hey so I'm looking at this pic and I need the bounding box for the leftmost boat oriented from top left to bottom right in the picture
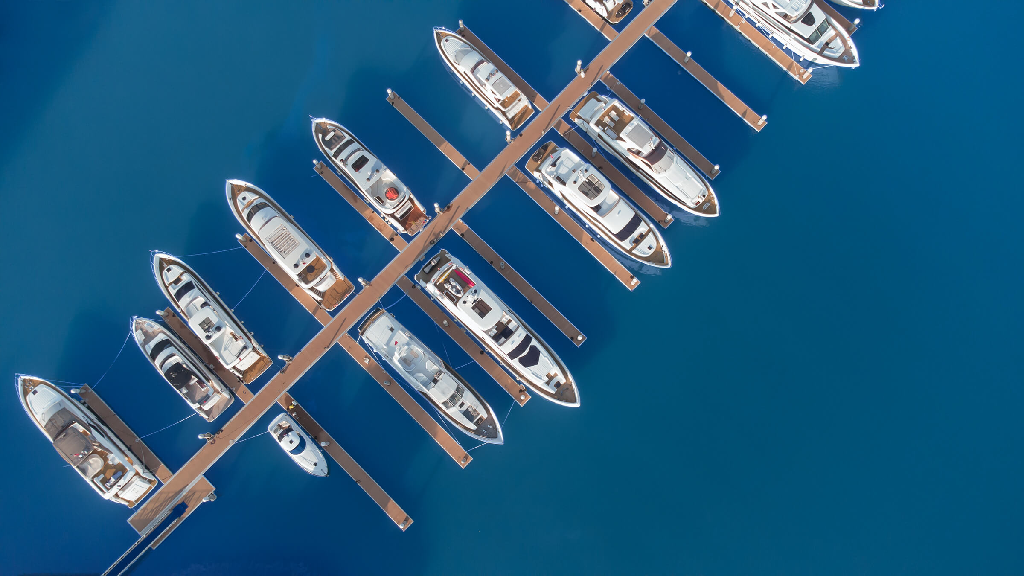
[15,374,159,508]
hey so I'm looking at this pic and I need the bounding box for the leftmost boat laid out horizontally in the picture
[581,0,633,25]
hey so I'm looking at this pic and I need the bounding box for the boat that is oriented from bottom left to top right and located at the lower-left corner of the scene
[107,472,123,487]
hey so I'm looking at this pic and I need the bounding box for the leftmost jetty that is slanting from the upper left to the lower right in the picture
[77,382,173,485]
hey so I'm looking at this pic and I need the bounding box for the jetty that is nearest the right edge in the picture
[814,0,858,38]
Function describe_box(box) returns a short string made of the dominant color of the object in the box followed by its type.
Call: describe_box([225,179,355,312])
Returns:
white boat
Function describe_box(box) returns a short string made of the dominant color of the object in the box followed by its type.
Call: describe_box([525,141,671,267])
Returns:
white boat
